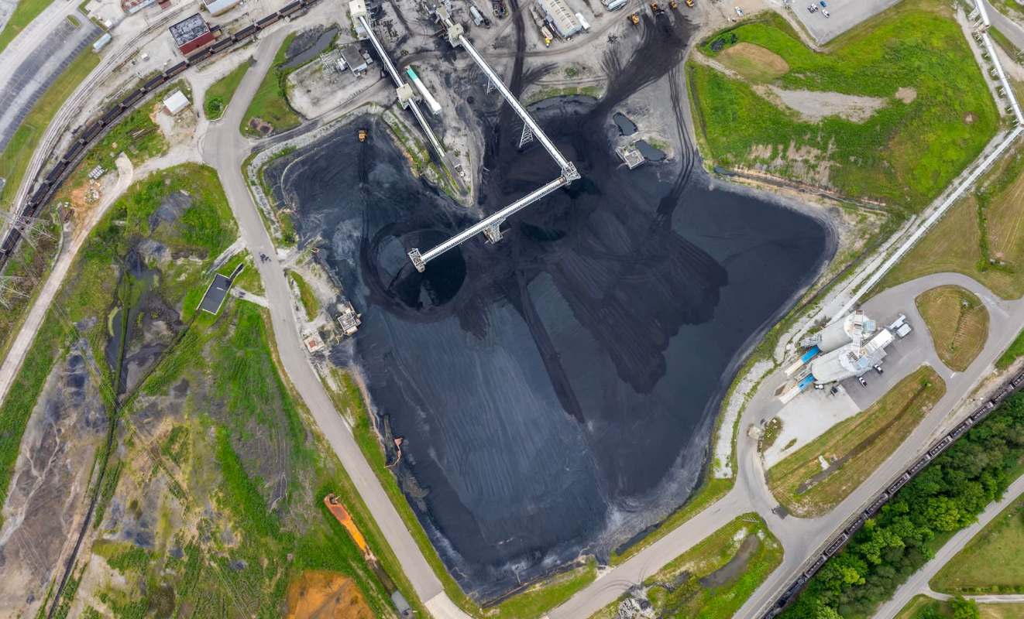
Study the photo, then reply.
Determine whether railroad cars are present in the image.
Yes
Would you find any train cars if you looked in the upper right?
No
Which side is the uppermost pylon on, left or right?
left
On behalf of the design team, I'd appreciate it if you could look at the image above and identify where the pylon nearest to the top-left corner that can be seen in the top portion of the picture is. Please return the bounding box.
[0,209,53,246]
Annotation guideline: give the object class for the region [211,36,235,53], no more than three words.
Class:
rail car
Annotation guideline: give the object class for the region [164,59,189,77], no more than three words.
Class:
rail car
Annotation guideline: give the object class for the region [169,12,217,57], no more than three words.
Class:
building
